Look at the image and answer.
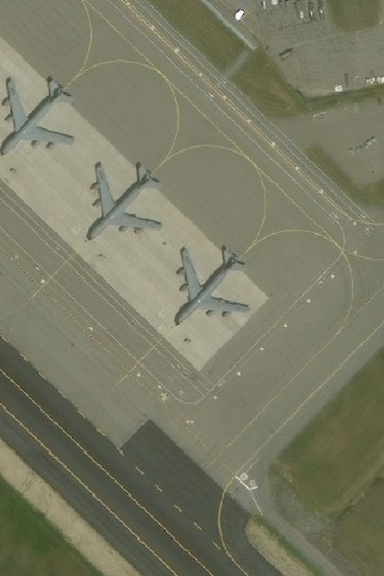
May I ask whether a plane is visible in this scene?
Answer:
Yes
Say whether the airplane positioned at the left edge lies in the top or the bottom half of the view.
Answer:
top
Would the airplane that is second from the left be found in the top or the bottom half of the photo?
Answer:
top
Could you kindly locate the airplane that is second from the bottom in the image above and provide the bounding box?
[88,164,163,239]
